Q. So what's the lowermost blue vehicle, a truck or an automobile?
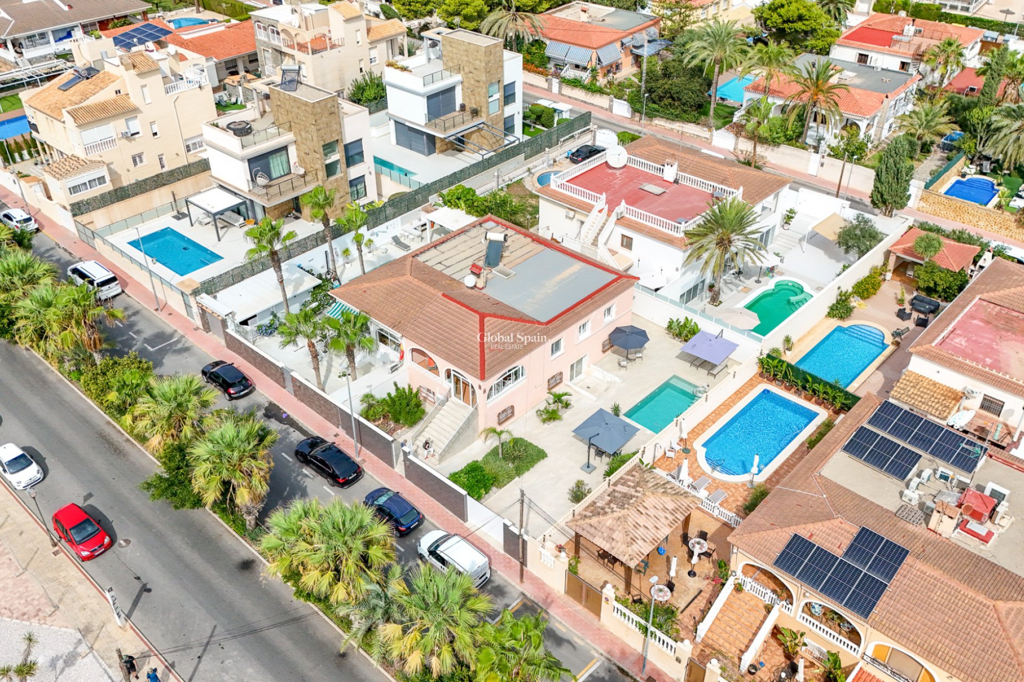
automobile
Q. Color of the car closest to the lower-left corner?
red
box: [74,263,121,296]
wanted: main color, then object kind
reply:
white car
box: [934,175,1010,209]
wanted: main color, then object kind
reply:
blue swimming pool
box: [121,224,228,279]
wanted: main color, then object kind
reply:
blue swimming pool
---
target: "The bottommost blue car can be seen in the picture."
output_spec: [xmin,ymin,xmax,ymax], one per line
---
[360,485,426,537]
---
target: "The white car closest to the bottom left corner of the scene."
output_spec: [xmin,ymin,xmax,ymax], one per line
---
[0,438,42,487]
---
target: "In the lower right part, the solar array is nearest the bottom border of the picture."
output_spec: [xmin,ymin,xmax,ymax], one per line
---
[775,523,914,619]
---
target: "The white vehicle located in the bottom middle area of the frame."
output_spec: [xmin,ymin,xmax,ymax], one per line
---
[413,527,493,593]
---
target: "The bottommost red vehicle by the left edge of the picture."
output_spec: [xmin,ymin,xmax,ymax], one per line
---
[46,498,107,557]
